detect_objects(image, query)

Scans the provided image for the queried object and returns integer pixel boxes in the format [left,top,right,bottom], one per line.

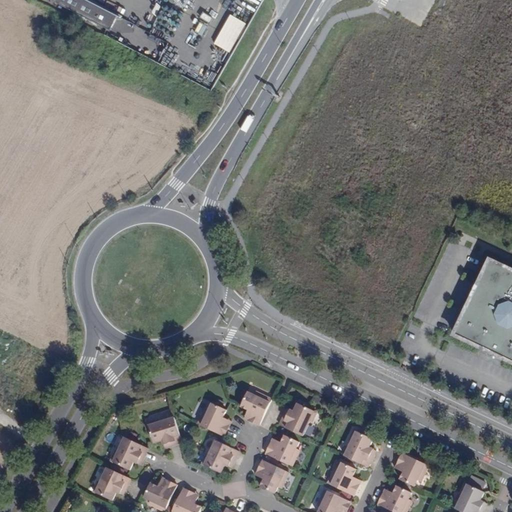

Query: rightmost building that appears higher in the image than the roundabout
[214,15,246,52]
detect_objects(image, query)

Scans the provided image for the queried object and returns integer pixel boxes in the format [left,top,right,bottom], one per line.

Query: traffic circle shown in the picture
[74,204,227,357]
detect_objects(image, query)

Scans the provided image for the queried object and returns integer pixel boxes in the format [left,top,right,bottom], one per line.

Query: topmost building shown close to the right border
[450,256,512,363]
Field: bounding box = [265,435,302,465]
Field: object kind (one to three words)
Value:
house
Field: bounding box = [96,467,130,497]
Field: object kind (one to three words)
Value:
house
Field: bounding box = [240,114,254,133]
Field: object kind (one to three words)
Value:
vehicle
